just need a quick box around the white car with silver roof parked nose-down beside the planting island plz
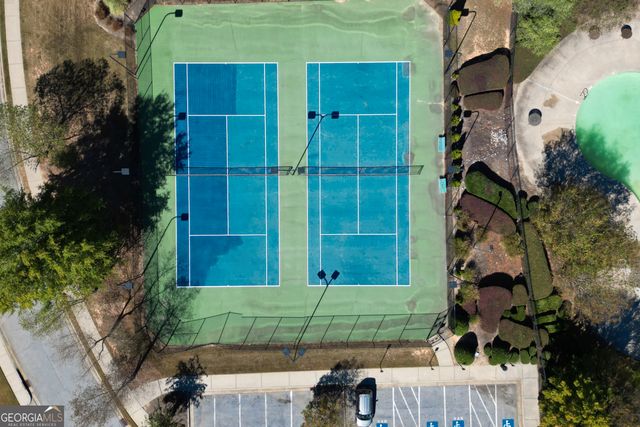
[356,387,376,427]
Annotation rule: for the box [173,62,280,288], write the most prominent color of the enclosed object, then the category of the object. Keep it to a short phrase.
blue tennis court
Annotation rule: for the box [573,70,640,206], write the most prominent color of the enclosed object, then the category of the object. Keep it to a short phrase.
green swimming pool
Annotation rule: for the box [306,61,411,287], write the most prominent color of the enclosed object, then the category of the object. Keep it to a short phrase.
blue tennis court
